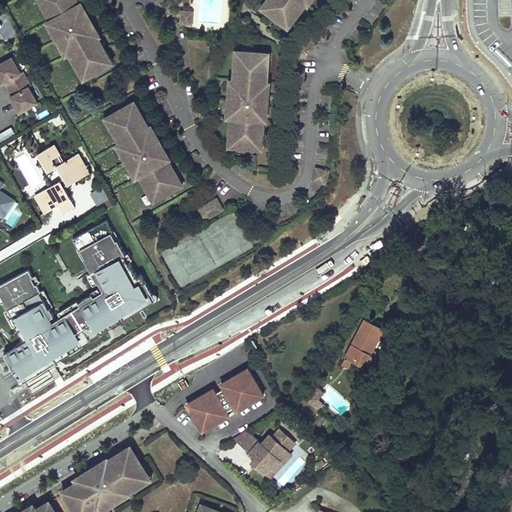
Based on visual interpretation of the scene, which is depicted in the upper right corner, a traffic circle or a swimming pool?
traffic circle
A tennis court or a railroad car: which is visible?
tennis court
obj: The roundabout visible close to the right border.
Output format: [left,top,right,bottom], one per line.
[364,48,508,192]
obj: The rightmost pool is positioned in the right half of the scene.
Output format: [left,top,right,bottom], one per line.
[322,384,350,416]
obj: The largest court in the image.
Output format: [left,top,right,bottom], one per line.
[162,214,253,287]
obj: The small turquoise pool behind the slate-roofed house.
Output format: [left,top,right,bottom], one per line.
[4,209,22,230]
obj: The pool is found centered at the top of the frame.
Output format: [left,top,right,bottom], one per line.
[194,0,229,30]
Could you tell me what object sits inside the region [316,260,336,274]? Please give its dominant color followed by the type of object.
white vehicle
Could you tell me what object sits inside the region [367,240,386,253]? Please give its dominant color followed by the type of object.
white vehicle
